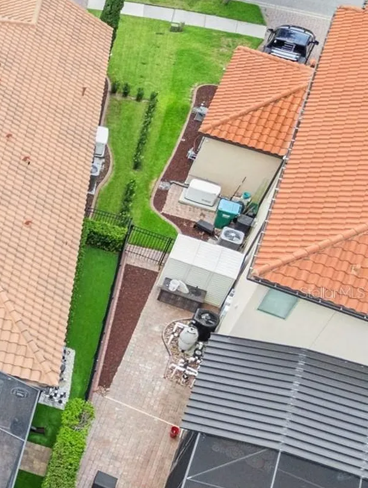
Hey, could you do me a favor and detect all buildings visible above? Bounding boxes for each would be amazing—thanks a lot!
[0,0,117,422]
[186,1,368,405]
